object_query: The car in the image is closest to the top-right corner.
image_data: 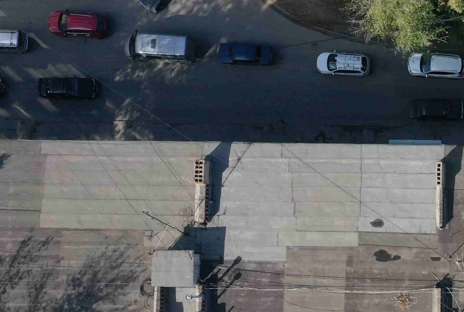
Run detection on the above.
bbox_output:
[408,52,464,80]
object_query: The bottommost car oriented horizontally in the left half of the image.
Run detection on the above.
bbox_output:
[38,74,100,101]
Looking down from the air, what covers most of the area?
buildings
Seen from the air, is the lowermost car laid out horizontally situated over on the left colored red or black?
black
